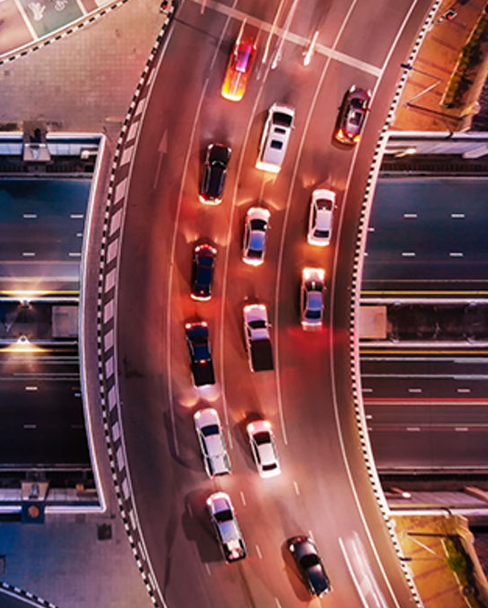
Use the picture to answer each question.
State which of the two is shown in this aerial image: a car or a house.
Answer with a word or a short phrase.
car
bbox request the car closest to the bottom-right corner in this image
[341,547,388,608]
